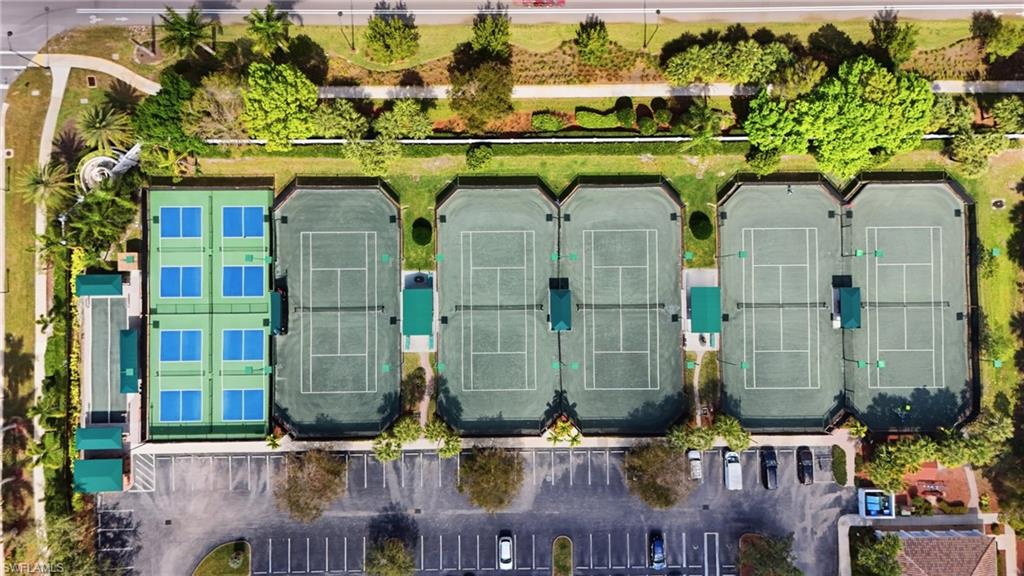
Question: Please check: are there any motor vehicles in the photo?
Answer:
Yes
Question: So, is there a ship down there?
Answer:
No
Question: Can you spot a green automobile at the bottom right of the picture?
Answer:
No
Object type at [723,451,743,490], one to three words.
vehicle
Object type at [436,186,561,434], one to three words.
tennis court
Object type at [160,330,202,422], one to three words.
sports court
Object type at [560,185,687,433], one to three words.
tennis court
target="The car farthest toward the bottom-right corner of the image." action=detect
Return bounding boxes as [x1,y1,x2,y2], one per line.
[796,447,814,483]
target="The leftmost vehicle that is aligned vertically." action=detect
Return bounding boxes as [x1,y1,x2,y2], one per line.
[497,537,513,571]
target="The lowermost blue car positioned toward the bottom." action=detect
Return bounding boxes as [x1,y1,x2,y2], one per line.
[649,535,666,570]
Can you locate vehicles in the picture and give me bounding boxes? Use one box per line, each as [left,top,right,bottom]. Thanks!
[723,451,743,490]
[686,449,702,480]
[796,447,814,483]
[497,537,513,571]
[649,535,666,570]
[760,448,778,487]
